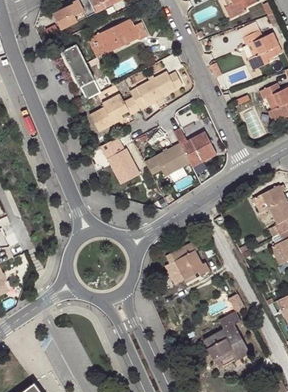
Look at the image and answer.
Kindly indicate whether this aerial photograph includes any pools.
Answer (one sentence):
Yes, there's a pool down there.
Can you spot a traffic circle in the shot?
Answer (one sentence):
Yes, looking at the shot, I can spot a traffic circle.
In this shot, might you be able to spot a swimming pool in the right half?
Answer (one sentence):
Yes, looking in the right half, one can make out a swimming pool.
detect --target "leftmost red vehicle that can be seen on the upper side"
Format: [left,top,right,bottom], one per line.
[22,106,38,138]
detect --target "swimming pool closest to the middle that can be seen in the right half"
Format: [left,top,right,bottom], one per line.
[174,176,195,193]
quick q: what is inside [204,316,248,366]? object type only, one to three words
house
